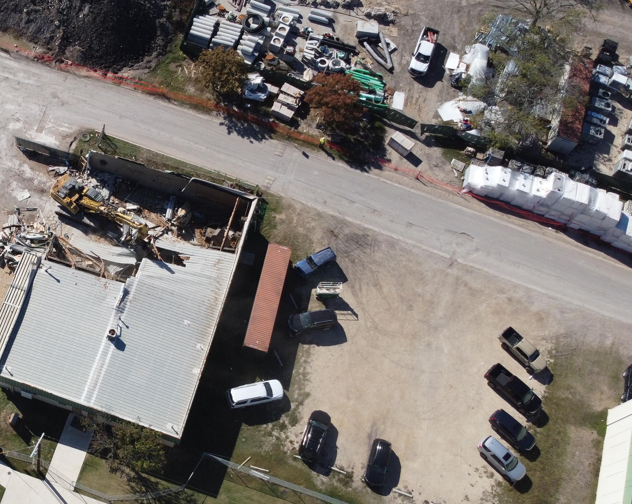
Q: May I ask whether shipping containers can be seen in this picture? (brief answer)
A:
Yes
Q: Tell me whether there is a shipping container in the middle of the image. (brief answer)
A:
Yes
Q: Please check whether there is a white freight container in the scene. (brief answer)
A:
No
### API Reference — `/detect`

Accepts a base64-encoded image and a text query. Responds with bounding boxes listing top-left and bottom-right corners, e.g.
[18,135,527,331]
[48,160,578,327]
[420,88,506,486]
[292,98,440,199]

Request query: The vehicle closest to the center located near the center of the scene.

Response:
[295,246,337,277]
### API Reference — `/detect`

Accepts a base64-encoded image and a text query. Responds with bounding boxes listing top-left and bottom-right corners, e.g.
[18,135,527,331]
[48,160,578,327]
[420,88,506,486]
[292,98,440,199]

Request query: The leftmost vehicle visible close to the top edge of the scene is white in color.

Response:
[409,22,442,77]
